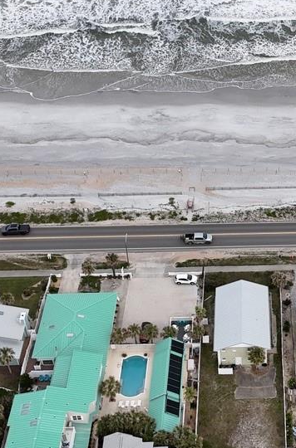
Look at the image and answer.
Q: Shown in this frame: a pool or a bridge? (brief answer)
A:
pool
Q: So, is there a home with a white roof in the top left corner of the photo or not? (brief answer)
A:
No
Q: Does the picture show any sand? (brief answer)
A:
Yes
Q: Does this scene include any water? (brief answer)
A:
Yes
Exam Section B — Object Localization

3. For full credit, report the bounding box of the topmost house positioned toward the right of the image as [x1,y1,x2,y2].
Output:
[214,281,274,362]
